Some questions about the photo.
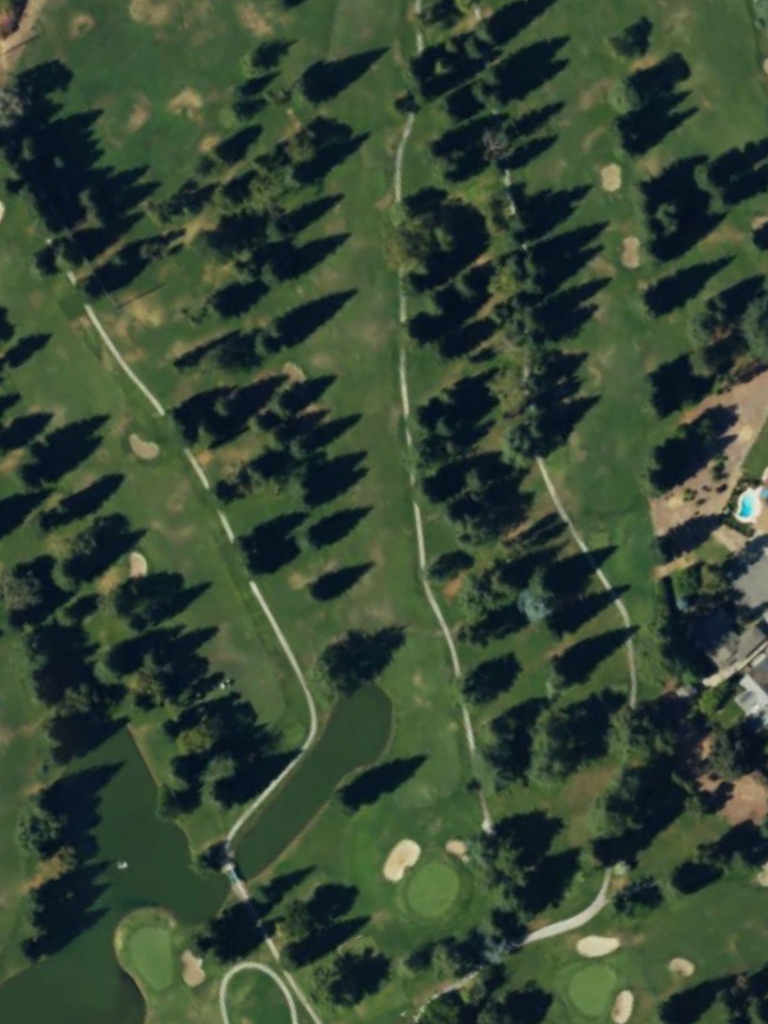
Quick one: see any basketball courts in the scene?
No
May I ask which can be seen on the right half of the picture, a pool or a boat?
pool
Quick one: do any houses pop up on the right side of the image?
Yes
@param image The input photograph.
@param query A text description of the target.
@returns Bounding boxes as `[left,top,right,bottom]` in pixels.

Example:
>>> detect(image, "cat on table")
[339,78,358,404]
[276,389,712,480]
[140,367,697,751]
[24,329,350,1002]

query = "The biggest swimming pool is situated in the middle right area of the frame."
[734,486,763,523]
